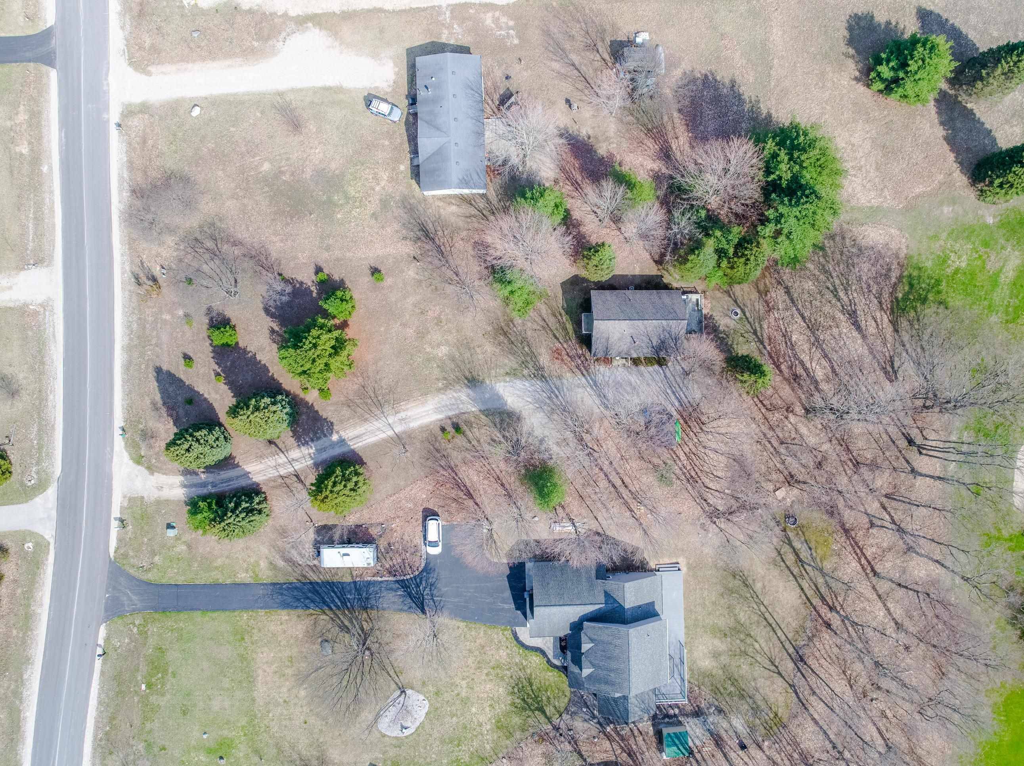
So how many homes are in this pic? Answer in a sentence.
The picture shows 3 homes.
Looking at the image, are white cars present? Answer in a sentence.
Yes, a white car is visible in the scene.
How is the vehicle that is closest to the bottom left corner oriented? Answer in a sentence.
Seen from above, the vehicle that is closest to the bottom left corner lies from left to right.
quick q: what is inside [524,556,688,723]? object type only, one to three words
house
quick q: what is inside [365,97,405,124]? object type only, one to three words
car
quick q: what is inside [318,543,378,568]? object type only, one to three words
vehicle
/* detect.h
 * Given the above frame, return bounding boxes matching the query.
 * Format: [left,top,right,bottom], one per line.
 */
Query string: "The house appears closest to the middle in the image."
[581,289,707,372]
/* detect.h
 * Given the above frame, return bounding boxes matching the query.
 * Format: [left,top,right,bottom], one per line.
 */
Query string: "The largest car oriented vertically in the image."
[424,516,443,554]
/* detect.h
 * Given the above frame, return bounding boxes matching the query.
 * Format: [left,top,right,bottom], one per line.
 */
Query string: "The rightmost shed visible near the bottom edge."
[662,724,689,757]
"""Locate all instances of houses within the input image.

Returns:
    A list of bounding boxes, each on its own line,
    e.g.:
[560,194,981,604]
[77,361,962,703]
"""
[403,52,521,196]
[581,289,707,372]
[524,556,688,723]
